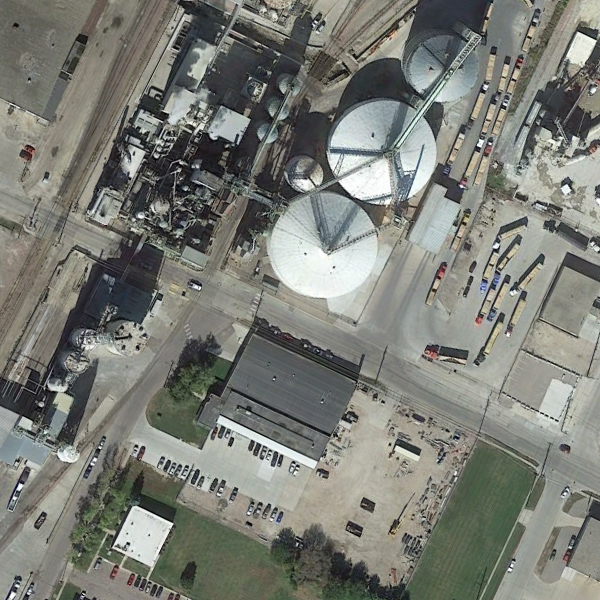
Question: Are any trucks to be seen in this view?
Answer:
Yes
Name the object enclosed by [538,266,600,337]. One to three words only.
building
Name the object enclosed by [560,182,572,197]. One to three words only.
vehicle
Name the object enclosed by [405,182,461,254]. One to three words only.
shed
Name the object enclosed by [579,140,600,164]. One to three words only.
vehicle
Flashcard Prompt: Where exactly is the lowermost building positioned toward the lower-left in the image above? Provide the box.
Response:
[111,506,173,566]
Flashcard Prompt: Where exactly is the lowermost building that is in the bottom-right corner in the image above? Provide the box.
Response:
[567,515,600,582]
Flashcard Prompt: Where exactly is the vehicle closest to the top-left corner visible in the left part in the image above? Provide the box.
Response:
[21,142,35,161]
